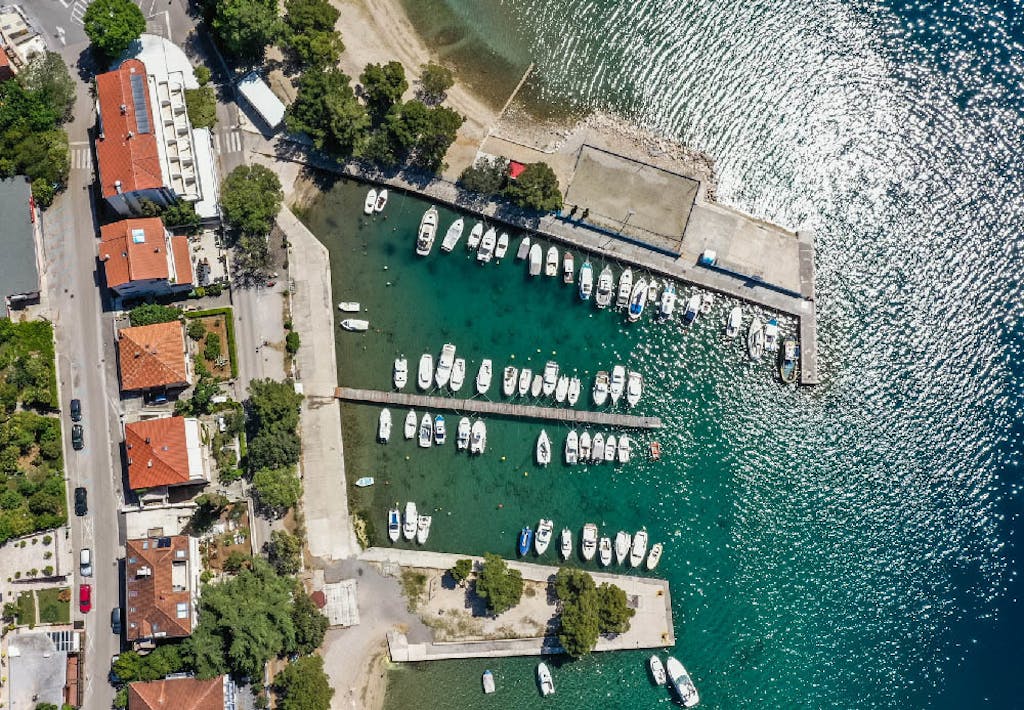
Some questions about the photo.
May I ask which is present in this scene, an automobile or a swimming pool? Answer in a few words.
automobile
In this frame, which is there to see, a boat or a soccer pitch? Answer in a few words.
boat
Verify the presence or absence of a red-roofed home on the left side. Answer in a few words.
Yes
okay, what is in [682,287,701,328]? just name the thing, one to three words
boat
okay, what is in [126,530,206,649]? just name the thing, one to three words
house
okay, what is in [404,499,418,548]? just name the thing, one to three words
boat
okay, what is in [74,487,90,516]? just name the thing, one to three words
car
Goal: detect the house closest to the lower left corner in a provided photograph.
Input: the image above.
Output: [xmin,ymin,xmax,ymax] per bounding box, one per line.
[8,619,86,710]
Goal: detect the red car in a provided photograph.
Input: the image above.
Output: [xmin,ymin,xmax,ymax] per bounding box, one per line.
[79,584,94,611]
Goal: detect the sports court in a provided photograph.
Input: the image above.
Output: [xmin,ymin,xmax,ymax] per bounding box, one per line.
[563,143,701,243]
